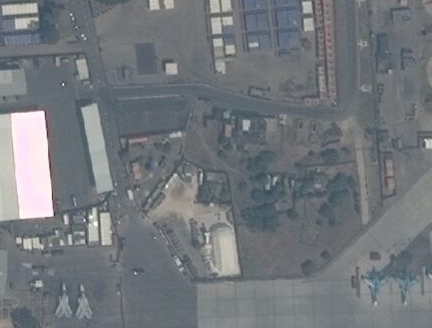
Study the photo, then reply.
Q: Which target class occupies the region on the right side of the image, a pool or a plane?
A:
plane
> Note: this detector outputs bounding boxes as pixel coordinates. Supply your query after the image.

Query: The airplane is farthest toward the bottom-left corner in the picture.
[54,283,71,320]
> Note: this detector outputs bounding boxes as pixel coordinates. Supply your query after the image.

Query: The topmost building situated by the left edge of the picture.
[1,2,37,16]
